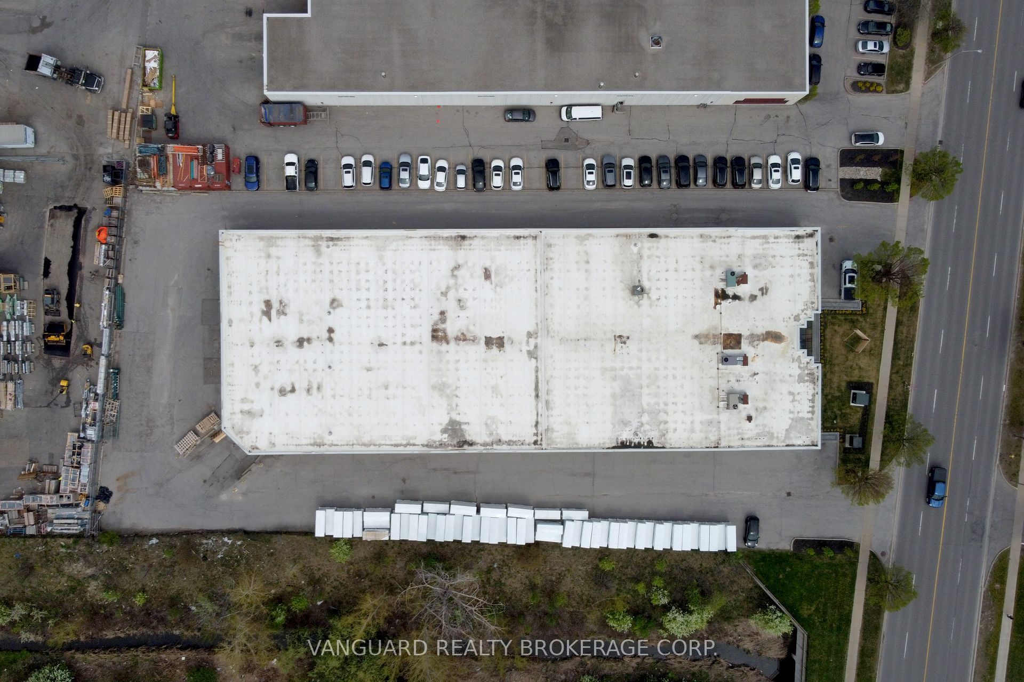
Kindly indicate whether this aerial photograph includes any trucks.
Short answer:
Yes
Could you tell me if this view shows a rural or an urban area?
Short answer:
urban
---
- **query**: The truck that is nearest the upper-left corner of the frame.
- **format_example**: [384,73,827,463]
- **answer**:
[21,48,103,91]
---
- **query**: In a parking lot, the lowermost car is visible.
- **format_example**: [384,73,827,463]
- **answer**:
[743,515,760,547]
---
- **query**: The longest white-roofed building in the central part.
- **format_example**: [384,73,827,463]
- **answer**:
[218,227,823,455]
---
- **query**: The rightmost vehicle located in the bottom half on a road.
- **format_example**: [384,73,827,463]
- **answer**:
[925,466,947,506]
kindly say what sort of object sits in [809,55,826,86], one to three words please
car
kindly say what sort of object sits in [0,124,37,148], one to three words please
trailer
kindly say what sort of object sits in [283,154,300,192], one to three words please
vehicle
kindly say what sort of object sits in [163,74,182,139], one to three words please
work vehicle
